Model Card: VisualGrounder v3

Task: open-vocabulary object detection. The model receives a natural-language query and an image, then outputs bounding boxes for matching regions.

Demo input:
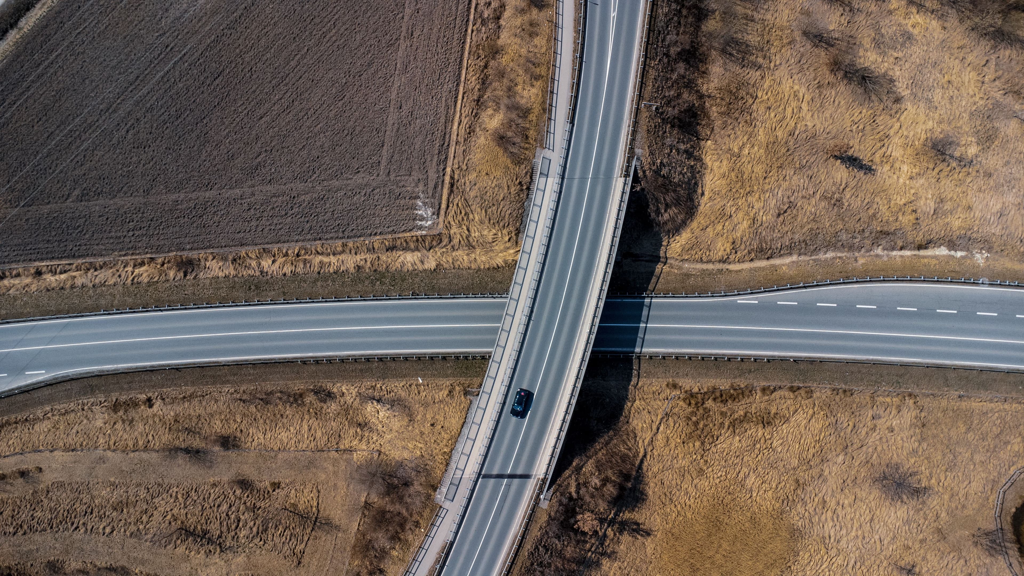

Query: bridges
[441,154,636,502]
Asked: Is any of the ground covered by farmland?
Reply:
Yes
